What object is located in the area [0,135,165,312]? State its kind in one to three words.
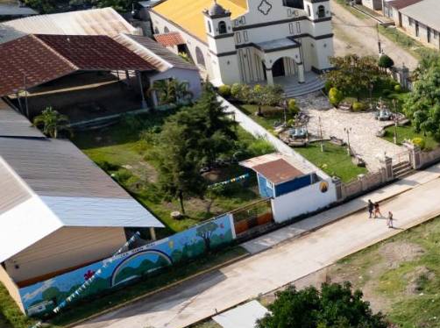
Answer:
building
